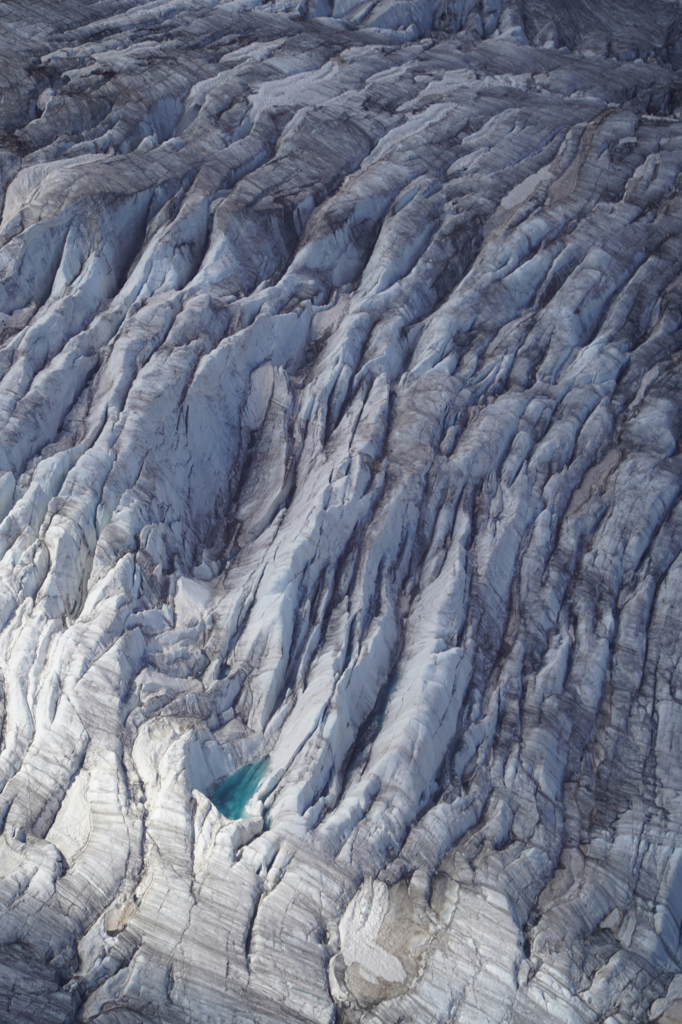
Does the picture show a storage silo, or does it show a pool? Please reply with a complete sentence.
Looking from above, you can make out a pool.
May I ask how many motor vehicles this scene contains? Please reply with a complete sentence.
The picture shows no motor vehicles.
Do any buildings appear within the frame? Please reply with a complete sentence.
No, there isn't any building down there.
